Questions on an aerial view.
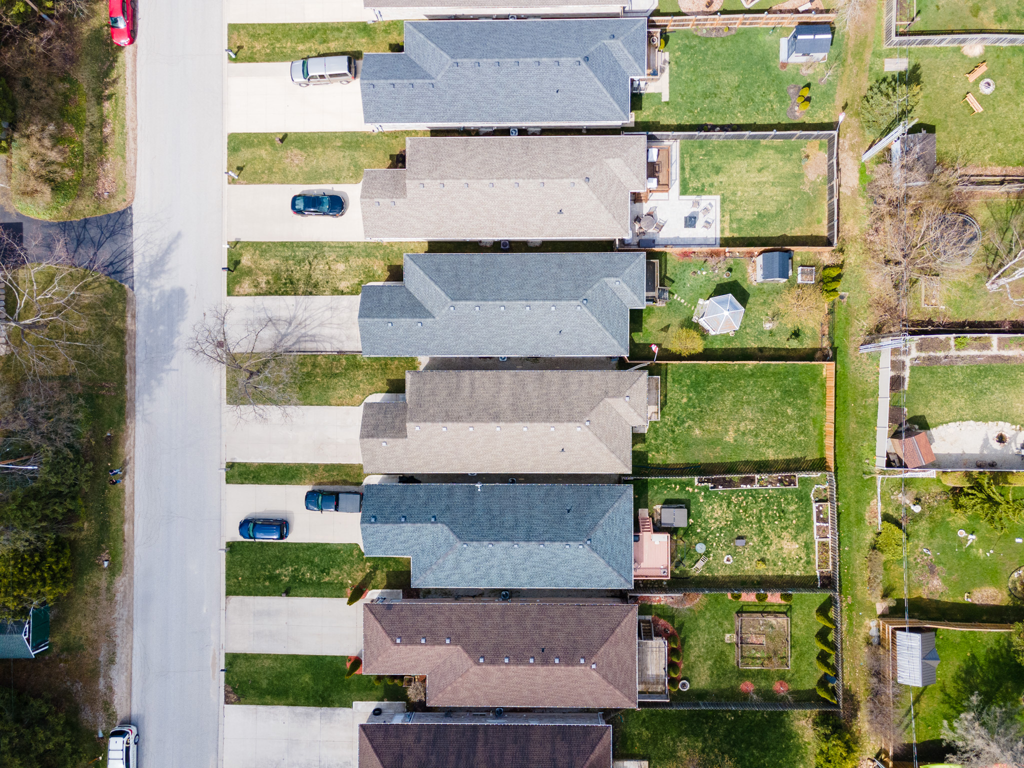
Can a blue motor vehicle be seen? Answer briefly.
Yes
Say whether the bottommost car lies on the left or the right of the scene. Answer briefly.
left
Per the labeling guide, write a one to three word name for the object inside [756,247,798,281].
shed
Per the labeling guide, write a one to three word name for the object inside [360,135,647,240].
house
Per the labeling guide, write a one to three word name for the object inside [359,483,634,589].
house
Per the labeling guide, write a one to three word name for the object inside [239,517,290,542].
car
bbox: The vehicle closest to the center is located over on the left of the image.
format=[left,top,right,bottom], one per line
[305,488,363,514]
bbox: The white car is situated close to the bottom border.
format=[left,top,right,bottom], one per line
[110,722,140,768]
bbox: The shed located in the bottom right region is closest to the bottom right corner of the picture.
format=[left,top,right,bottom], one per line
[893,629,946,694]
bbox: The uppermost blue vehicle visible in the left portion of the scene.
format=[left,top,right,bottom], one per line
[291,193,345,218]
